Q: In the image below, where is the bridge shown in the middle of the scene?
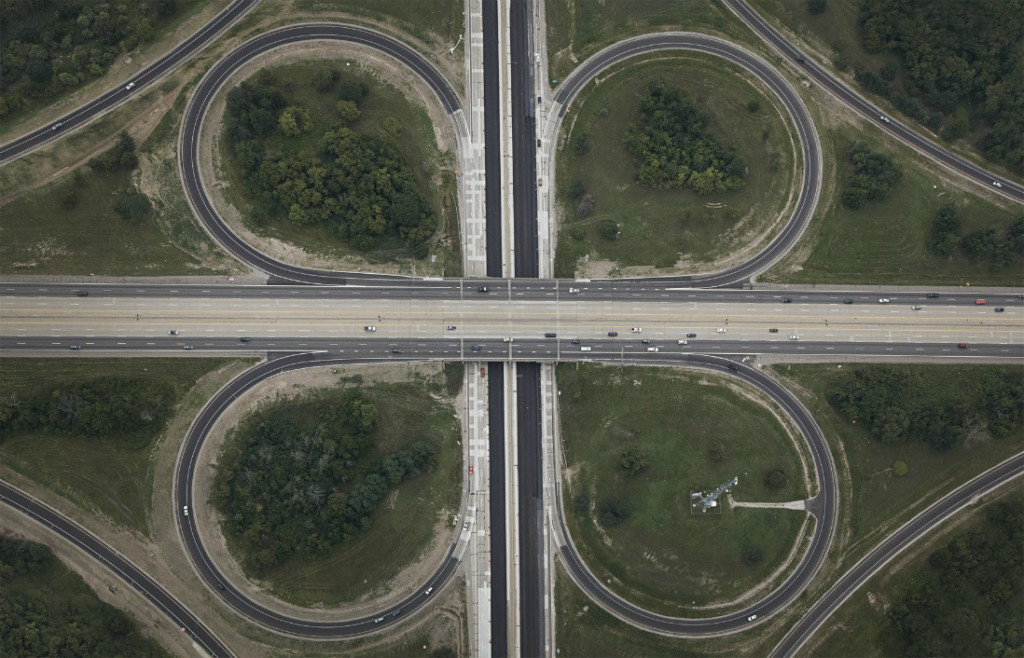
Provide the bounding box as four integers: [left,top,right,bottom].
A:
[423,272,591,371]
